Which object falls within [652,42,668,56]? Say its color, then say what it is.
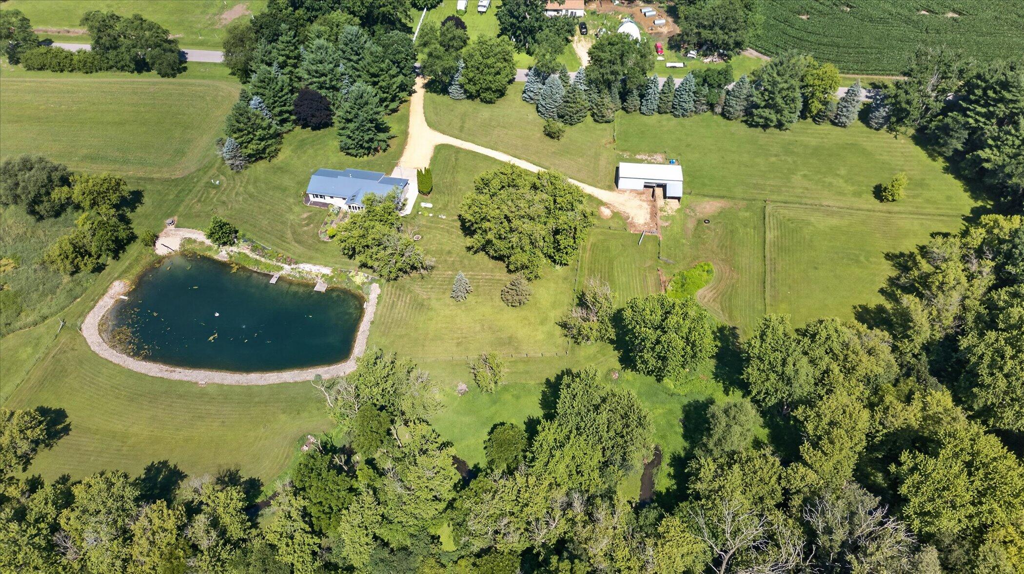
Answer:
red vehicle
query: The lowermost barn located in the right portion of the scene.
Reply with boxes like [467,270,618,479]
[617,162,683,206]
